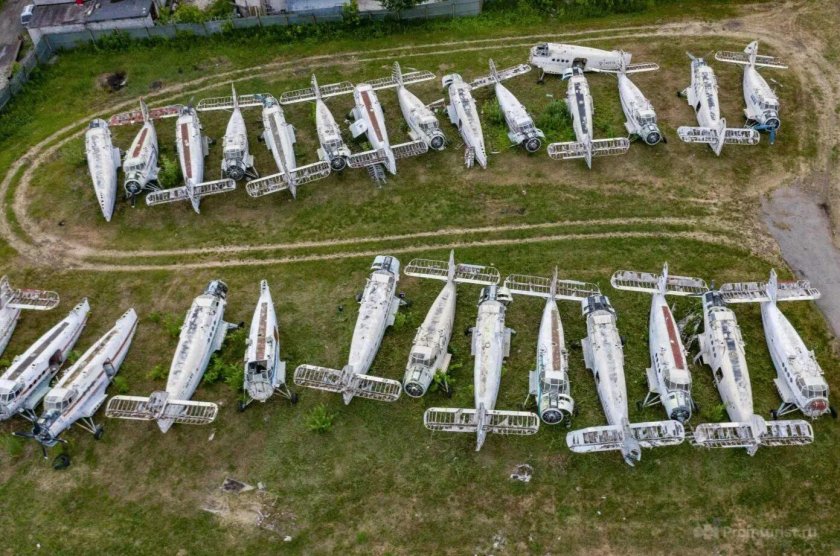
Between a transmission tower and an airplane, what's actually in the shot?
airplane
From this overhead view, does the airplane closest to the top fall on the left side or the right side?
right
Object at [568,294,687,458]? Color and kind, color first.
white airplane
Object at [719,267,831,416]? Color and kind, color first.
white airplane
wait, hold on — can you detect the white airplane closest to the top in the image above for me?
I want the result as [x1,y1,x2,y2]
[532,42,631,89]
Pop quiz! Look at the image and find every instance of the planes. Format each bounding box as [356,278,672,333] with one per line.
[369,62,450,156]
[714,42,788,140]
[148,98,237,207]
[532,42,631,89]
[197,84,275,182]
[294,255,409,408]
[436,75,487,171]
[0,291,95,411]
[238,280,296,408]
[347,81,430,172]
[398,248,500,395]
[0,277,62,353]
[585,49,664,144]
[19,304,142,444]
[107,95,186,203]
[680,286,813,456]
[280,75,358,174]
[609,261,707,416]
[719,267,831,416]
[568,294,687,458]
[247,97,332,197]
[546,67,631,164]
[461,57,546,157]
[501,264,601,423]
[84,119,129,224]
[423,284,540,445]
[112,286,244,446]
[673,53,760,150]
